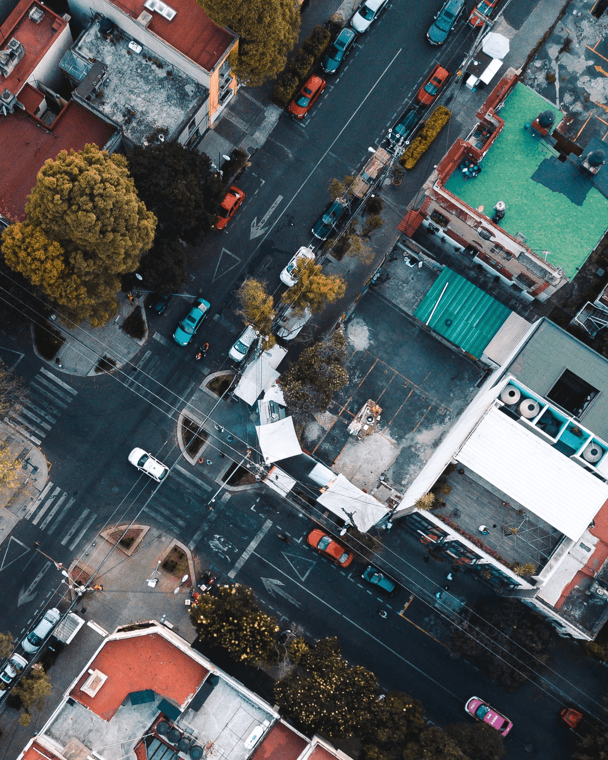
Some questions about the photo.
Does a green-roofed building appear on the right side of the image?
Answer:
Yes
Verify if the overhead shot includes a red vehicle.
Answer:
Yes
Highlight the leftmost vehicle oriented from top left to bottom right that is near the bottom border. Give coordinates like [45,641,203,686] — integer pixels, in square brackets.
[462,695,514,741]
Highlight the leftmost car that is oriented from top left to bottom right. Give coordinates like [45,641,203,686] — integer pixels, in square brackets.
[124,445,174,487]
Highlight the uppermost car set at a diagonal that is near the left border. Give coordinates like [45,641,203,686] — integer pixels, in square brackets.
[20,605,63,658]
